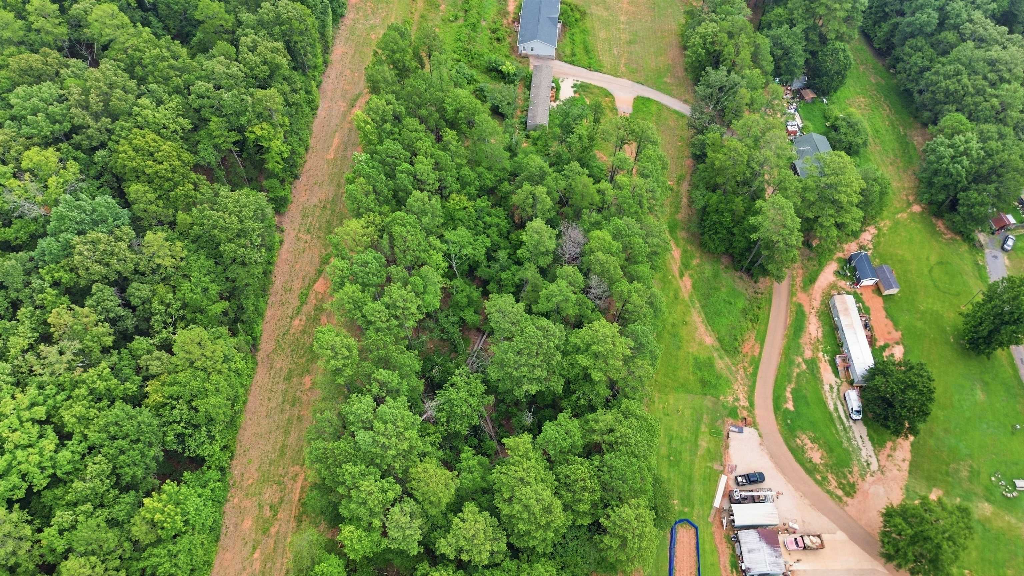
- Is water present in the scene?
No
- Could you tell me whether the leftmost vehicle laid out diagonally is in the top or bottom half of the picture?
bottom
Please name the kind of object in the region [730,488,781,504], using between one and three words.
vehicle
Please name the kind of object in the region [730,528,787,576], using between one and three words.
building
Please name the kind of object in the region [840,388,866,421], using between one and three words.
vehicle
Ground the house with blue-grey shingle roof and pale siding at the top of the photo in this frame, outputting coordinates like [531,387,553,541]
[514,0,564,56]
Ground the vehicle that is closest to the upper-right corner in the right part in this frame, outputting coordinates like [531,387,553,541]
[1002,234,1015,254]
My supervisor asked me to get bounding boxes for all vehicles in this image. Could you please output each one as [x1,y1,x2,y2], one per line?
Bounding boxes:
[1002,234,1015,254]
[733,470,766,486]
[840,388,866,421]
[782,534,827,551]
[730,488,781,504]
